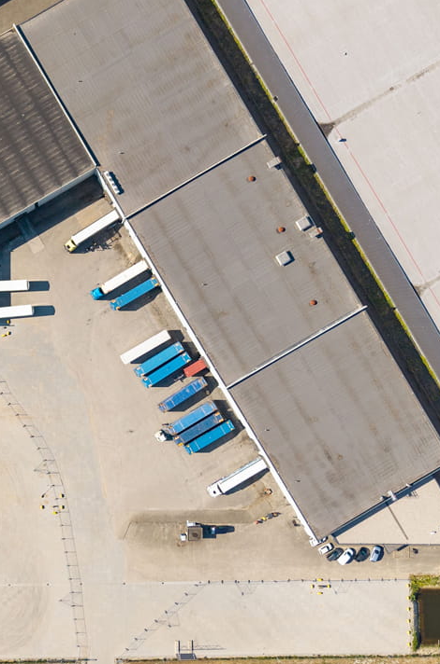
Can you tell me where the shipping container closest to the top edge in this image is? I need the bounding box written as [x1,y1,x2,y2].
[111,277,158,310]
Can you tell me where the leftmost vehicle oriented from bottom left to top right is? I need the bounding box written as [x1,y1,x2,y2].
[61,209,119,253]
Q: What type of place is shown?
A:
industrial area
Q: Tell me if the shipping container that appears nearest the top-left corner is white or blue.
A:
blue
